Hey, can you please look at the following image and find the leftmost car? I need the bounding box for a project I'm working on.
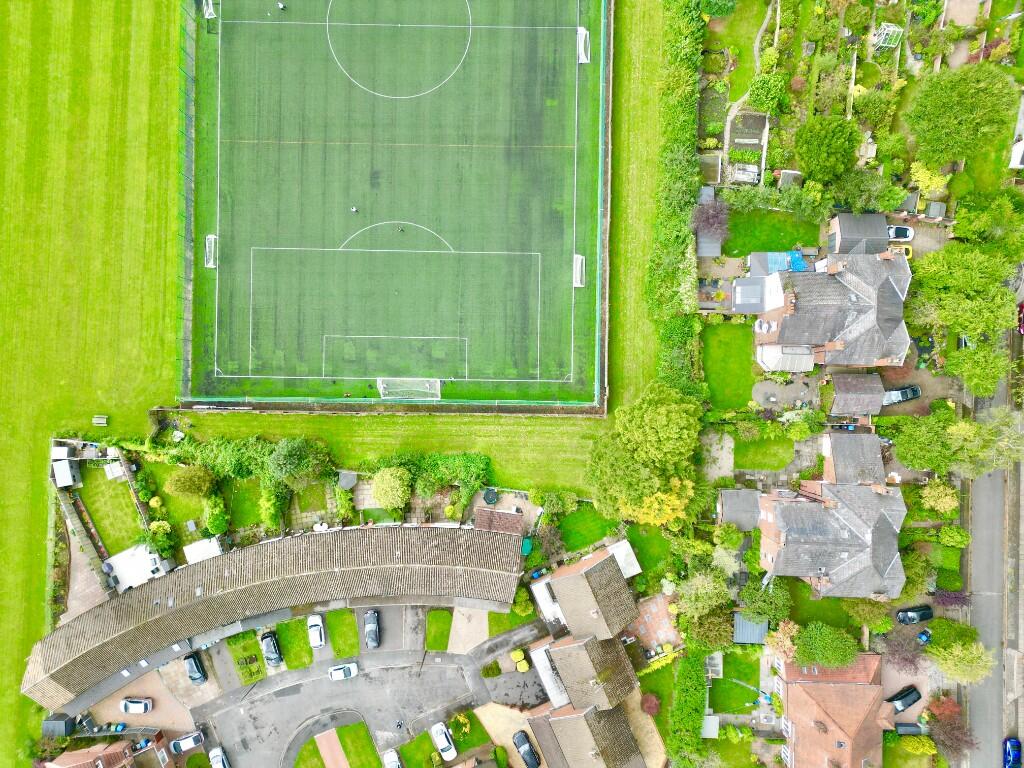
[123,696,155,715]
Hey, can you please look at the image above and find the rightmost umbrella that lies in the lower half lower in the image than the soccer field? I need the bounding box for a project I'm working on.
[482,488,498,504]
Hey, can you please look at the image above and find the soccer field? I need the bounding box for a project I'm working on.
[180,0,610,416]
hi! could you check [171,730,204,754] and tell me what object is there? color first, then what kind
white car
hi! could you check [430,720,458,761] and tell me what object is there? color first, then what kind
white car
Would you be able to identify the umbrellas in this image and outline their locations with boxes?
[482,488,498,504]
[104,561,117,573]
